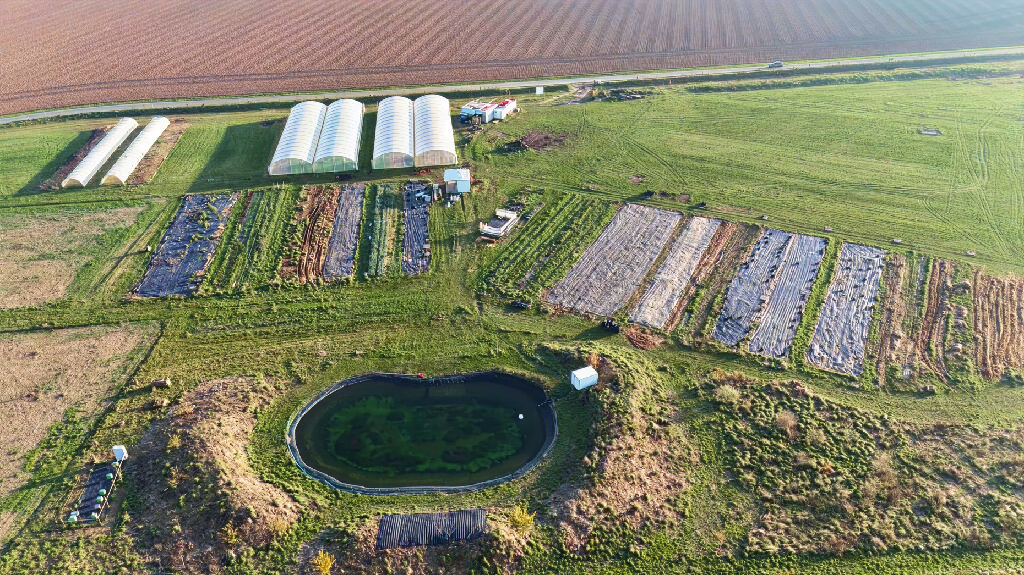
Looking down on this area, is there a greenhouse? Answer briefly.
Yes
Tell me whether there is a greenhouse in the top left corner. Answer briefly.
Yes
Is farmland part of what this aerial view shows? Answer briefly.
Yes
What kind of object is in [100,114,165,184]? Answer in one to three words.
greenhouse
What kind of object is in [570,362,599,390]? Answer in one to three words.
shed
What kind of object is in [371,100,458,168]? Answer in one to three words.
greenhouse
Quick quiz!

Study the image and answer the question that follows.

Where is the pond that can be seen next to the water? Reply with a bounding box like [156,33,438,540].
[302,383,545,491]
